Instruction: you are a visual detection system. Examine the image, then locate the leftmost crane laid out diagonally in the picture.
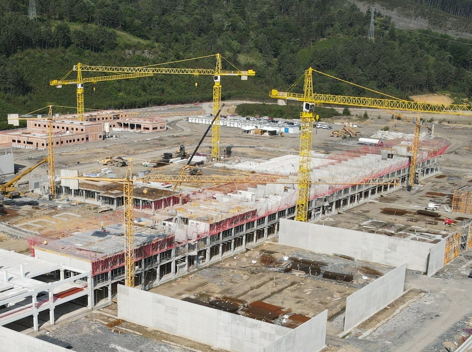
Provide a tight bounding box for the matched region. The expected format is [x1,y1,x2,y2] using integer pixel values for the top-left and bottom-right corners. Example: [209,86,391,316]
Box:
[5,150,64,197]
